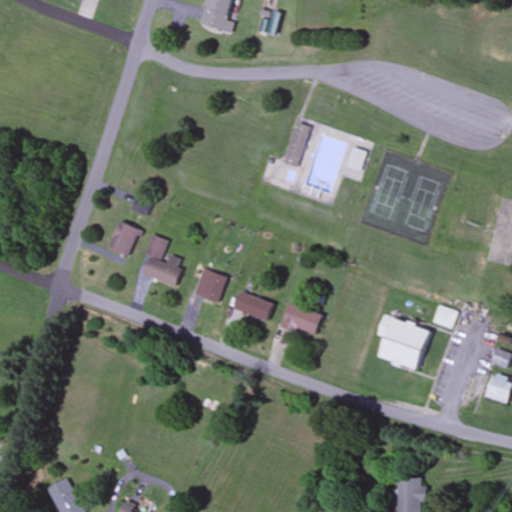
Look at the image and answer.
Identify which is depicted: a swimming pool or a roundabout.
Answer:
swimming pool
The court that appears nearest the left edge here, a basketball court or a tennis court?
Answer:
tennis court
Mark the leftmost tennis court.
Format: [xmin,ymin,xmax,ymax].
[362,150,419,233]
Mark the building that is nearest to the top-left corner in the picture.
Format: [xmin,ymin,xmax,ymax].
[201,0,238,32]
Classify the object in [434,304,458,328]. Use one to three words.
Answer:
building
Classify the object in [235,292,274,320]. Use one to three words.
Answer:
house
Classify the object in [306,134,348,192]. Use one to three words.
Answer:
swimming pool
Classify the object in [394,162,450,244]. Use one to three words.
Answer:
tennis court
